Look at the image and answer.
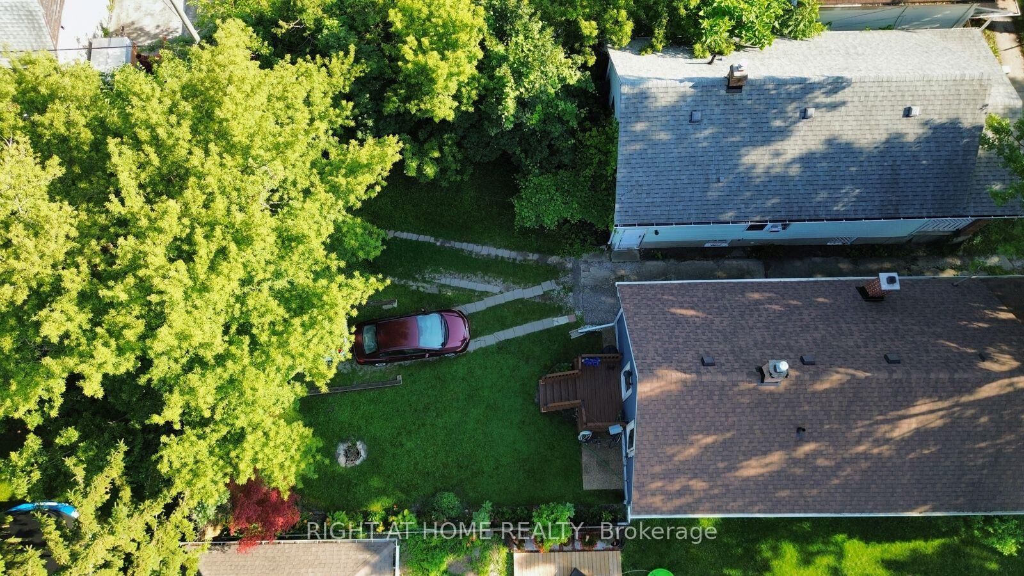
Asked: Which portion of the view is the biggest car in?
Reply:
center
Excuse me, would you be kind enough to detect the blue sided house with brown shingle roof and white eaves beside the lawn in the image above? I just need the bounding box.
[578,267,1024,525]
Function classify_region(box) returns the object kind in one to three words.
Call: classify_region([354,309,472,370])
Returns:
car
